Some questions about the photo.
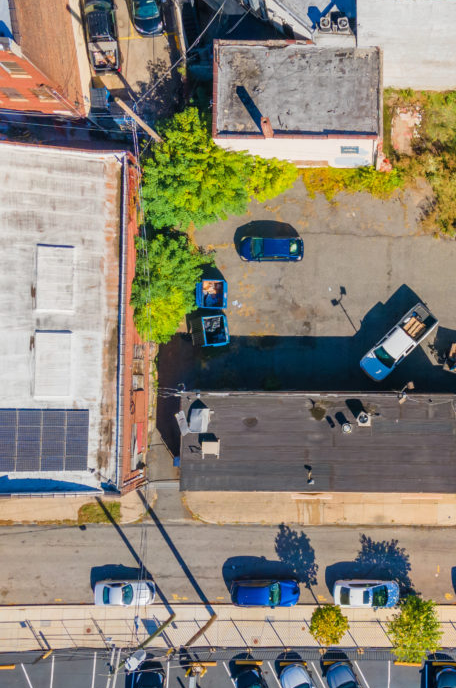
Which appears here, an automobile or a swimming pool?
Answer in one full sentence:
It is an automobile that can be seen here.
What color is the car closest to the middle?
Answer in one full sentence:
From above, the car closest to the middle appears blue.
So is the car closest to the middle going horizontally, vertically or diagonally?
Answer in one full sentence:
The car closest to the middle is oriented horizontally.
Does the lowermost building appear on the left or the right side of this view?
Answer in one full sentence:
The lowermost building is on the right side of the image.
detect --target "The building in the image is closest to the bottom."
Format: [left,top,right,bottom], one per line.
[178,391,456,503]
